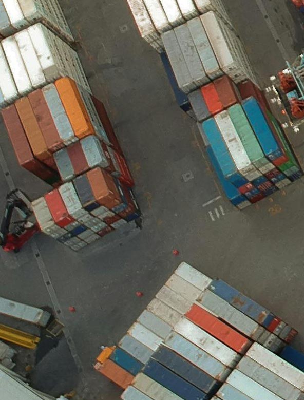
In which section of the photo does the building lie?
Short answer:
bottom left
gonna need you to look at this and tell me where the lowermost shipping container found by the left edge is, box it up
[0,300,50,327]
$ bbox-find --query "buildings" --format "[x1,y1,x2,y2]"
[0,364,65,400]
